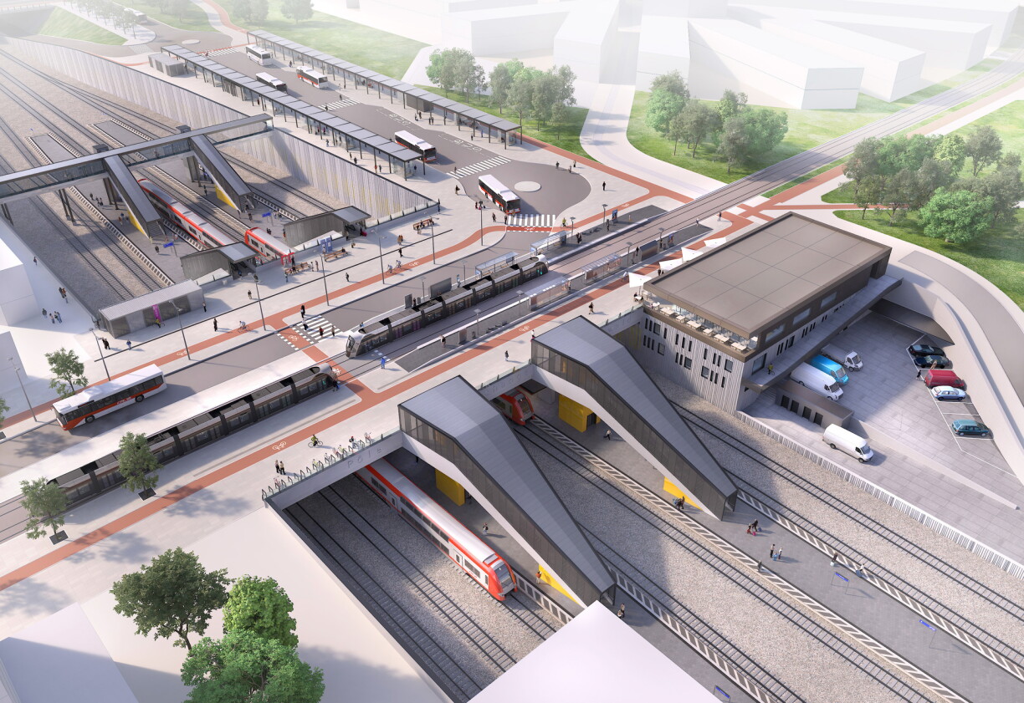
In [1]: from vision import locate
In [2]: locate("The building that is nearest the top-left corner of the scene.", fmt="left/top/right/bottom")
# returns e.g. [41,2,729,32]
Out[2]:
[147,48,185,74]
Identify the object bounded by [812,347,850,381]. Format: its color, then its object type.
blue van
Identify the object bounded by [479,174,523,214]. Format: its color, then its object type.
white bus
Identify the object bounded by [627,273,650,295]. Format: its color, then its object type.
white umbrella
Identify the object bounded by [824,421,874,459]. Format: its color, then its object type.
white van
